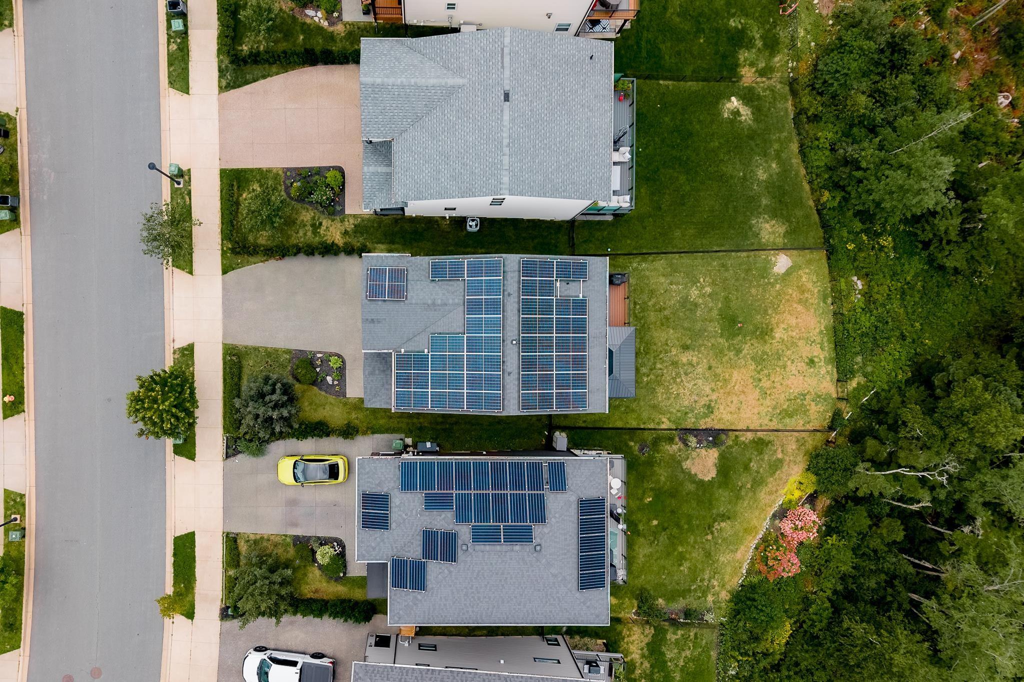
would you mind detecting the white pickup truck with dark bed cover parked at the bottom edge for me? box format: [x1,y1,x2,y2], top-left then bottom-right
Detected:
[241,643,335,682]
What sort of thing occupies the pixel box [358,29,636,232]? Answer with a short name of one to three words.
house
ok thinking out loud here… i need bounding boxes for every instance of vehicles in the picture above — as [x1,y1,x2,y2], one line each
[278,453,349,487]
[241,643,335,682]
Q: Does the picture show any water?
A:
No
